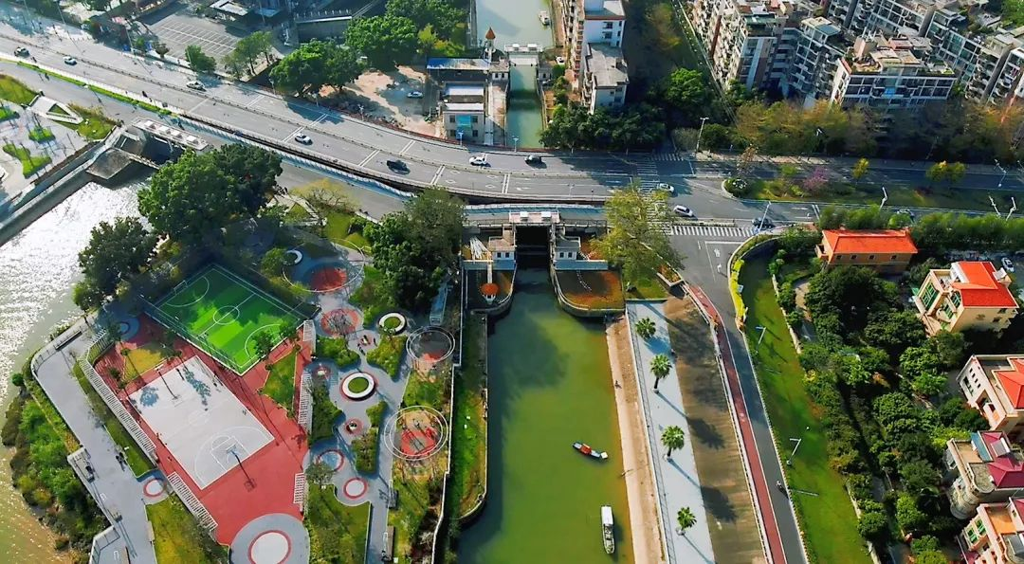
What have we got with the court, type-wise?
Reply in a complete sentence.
It turns out the court is a basketball court.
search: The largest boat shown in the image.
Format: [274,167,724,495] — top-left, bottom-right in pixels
[602,501,615,555]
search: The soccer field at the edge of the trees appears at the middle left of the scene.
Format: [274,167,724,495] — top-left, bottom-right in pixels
[138,252,306,376]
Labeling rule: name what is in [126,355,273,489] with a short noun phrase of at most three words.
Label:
basketball court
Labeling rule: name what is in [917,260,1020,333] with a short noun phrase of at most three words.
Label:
house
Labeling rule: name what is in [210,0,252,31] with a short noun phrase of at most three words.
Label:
building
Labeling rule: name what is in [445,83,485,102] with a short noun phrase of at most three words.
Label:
shed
